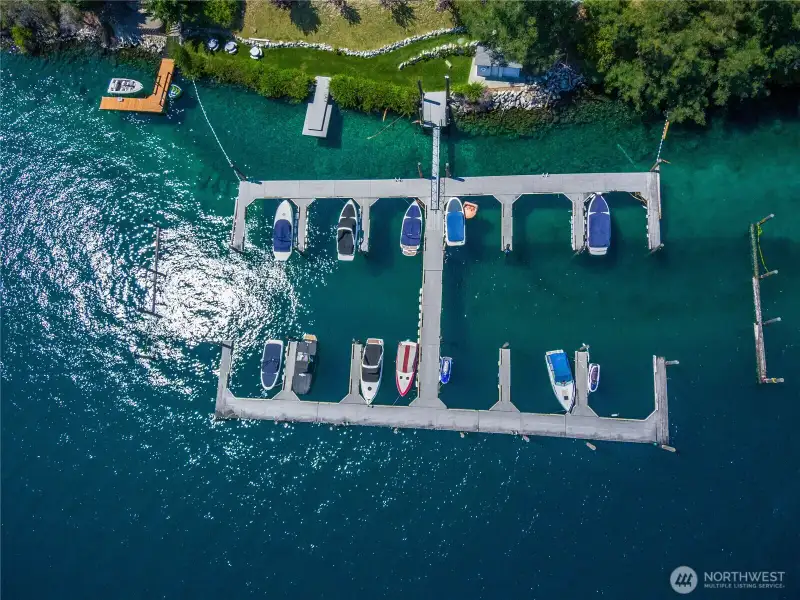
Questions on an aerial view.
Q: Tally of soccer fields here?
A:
none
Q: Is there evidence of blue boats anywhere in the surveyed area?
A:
Yes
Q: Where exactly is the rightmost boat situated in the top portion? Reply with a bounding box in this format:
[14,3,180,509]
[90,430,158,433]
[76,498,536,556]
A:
[585,194,611,256]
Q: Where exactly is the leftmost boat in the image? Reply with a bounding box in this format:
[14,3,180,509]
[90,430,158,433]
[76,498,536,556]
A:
[106,79,142,97]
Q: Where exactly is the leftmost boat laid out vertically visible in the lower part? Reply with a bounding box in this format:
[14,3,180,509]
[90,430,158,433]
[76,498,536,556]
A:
[260,340,285,390]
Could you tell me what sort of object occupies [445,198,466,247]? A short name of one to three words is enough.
boat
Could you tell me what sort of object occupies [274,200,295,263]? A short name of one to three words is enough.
boat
